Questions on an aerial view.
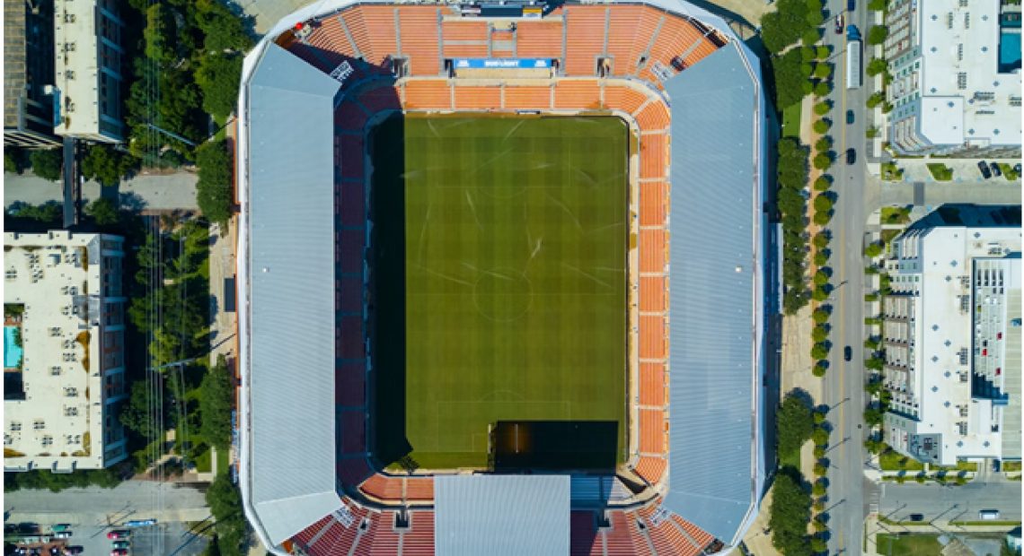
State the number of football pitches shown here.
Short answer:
1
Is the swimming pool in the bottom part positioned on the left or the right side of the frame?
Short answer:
left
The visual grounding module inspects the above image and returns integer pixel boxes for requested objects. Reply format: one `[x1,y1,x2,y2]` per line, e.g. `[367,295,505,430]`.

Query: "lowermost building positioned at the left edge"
[0,229,129,473]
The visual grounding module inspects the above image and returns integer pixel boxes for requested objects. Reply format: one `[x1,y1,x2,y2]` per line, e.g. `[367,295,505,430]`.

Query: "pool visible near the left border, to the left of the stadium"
[0,314,22,375]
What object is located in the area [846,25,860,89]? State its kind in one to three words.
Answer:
vehicle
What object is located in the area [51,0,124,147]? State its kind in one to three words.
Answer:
building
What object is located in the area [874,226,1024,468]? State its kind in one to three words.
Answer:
building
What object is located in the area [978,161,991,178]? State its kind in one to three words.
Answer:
vehicle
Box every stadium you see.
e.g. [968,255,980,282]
[238,0,767,556]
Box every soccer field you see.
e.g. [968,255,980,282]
[371,110,627,469]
